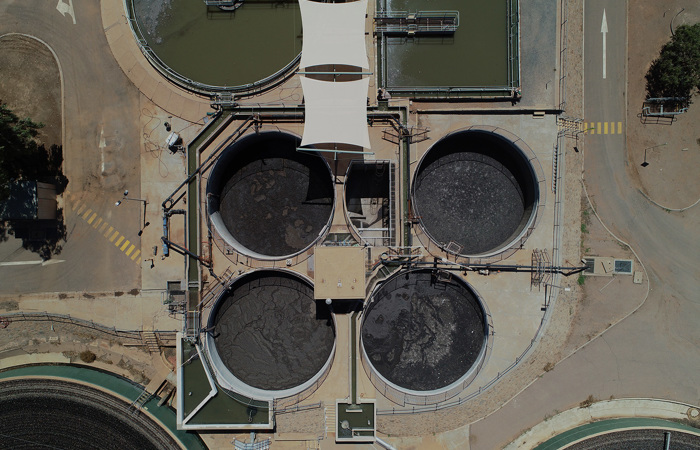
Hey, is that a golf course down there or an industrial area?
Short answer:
industrial area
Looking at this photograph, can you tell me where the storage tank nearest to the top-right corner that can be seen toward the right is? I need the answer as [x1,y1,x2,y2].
[412,127,546,258]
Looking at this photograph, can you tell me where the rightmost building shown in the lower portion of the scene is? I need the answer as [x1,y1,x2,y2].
[314,247,364,299]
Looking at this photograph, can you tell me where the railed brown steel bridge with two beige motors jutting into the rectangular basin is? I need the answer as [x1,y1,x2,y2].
[375,12,458,36]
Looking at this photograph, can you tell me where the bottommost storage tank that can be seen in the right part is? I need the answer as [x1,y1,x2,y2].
[361,267,492,400]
